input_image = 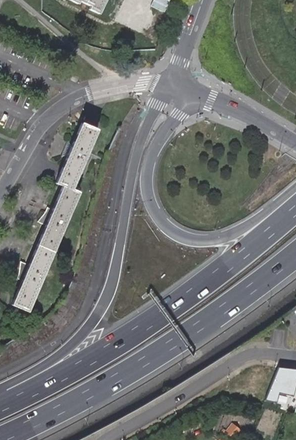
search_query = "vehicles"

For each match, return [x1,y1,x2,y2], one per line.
[44,379,56,388]
[162,294,174,304]
[26,410,38,418]
[96,373,107,382]
[46,420,56,428]
[113,338,125,347]
[272,263,283,272]
[188,14,194,25]
[13,92,20,104]
[1,111,8,126]
[24,98,31,110]
[112,384,122,392]
[105,332,116,341]
[228,100,240,107]
[172,297,186,308]
[232,242,242,251]
[198,287,212,298]
[6,89,14,100]
[228,306,240,318]
[176,393,186,401]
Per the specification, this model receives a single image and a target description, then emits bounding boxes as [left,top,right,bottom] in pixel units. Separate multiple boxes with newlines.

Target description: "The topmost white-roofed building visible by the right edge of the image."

[266,365,296,402]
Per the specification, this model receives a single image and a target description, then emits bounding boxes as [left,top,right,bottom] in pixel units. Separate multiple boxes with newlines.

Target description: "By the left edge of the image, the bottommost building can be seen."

[12,184,82,312]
